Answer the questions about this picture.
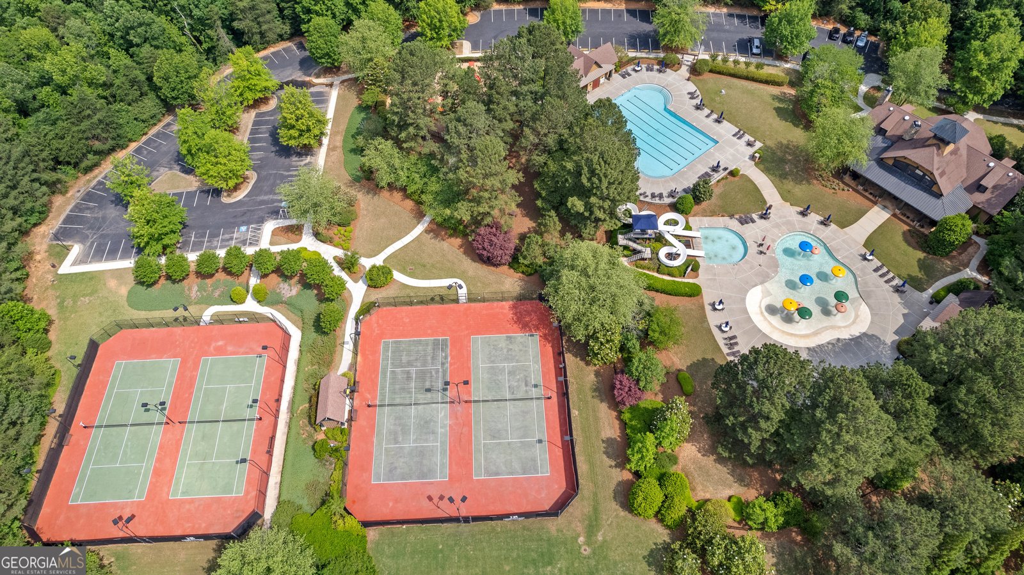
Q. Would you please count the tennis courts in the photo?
4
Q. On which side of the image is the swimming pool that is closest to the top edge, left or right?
right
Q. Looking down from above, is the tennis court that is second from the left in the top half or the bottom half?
bottom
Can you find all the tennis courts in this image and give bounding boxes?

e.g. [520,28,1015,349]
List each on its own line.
[345,304,461,522]
[33,326,199,542]
[460,300,577,519]
[147,323,290,538]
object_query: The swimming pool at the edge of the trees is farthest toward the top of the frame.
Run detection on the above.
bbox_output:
[612,81,730,178]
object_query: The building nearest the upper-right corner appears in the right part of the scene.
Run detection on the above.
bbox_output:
[830,87,1024,235]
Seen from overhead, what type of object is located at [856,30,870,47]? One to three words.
car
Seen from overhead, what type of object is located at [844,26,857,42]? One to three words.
vehicle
